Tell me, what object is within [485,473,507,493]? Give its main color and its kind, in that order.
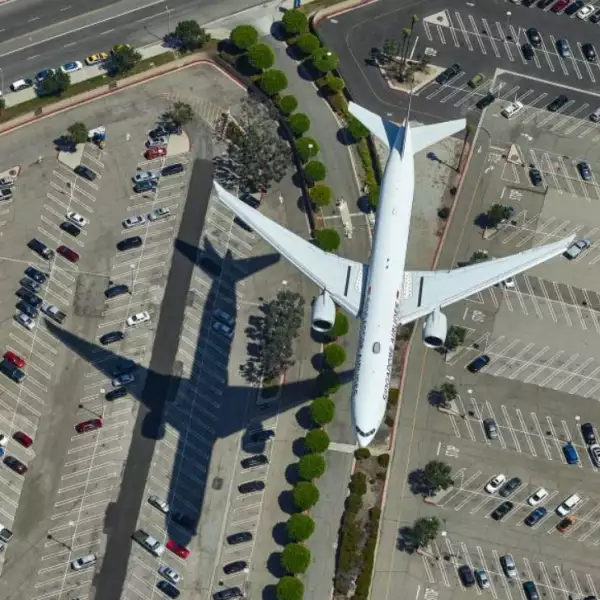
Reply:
white car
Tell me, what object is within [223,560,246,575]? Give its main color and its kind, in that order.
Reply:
black car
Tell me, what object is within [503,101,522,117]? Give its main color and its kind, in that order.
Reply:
white car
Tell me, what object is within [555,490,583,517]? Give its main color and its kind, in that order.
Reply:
white vehicle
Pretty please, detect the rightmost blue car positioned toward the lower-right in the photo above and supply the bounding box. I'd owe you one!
[562,442,579,465]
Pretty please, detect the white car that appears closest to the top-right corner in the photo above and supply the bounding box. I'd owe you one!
[577,5,595,19]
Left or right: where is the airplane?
right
